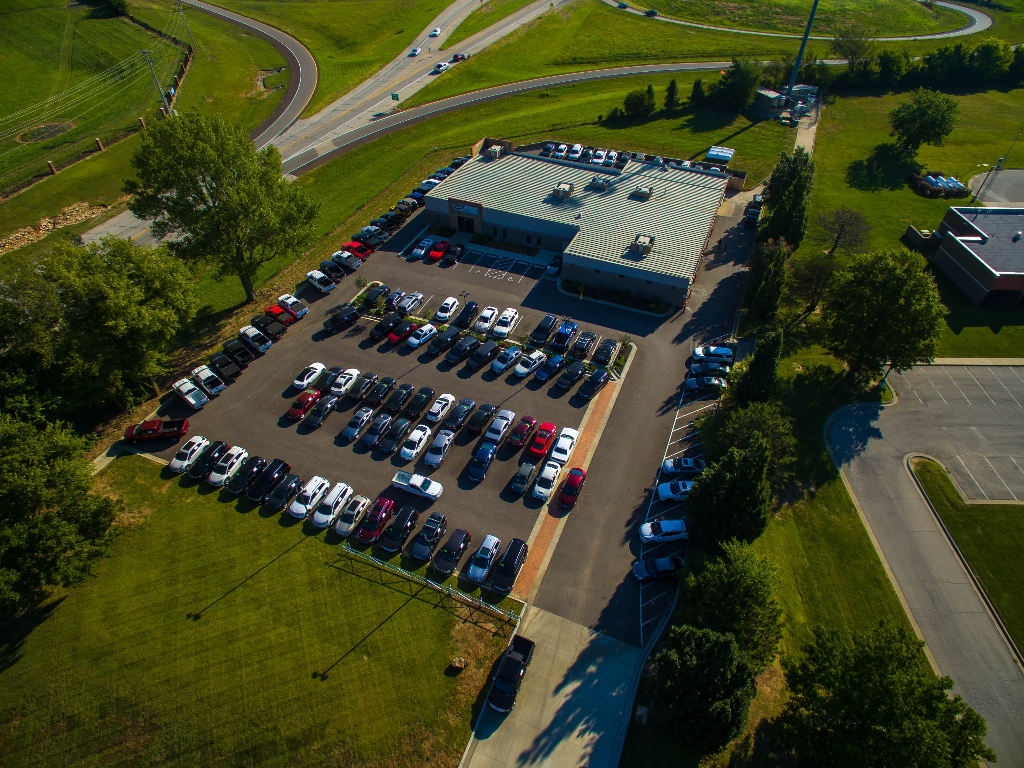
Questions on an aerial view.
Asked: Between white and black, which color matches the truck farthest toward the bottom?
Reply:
black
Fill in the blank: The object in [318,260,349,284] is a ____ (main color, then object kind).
black truck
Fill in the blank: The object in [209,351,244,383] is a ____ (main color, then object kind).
black truck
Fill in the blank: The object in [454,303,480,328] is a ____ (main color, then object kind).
black car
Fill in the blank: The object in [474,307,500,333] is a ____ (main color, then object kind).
white car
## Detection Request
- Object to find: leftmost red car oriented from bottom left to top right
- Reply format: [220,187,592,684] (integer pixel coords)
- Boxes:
[287,388,322,423]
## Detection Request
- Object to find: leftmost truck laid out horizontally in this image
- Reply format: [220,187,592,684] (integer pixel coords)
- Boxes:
[130,421,188,445]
